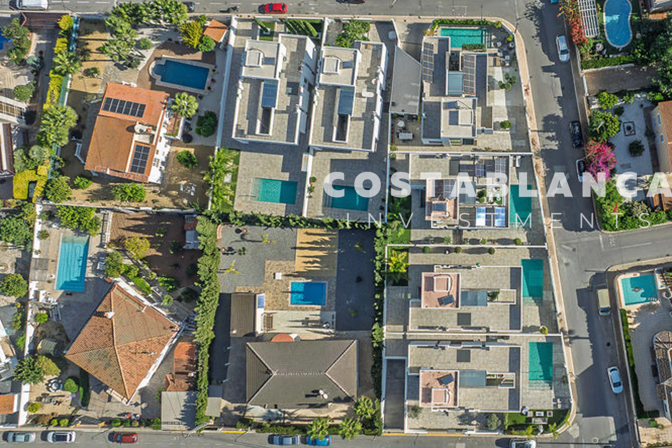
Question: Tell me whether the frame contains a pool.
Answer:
Yes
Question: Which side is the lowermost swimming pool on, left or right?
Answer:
right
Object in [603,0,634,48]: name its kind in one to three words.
swimming pool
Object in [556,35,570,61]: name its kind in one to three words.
car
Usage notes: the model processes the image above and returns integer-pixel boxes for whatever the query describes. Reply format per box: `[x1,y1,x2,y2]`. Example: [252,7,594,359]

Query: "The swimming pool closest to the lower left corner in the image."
[54,233,91,292]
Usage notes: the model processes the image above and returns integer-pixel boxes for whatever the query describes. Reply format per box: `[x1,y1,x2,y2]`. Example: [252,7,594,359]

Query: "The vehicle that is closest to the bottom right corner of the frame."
[607,367,620,391]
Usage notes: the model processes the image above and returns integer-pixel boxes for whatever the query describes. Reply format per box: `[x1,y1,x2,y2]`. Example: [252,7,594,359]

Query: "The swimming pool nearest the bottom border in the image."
[529,342,553,390]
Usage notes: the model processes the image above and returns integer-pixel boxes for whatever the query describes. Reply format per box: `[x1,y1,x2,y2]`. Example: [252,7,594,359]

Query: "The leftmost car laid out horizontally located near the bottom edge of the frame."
[9,431,34,443]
